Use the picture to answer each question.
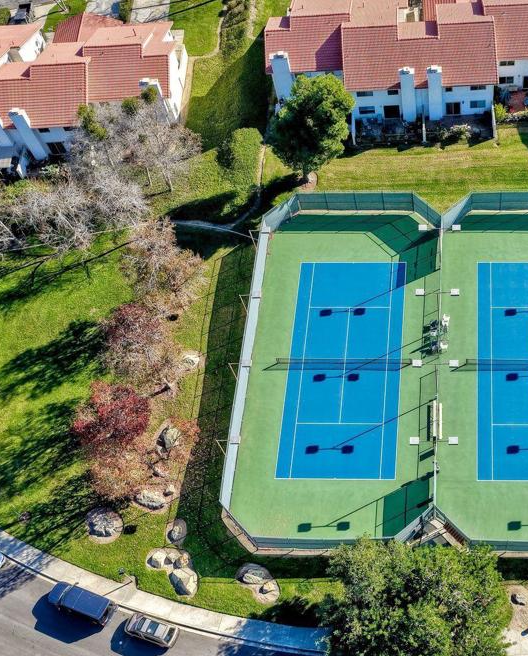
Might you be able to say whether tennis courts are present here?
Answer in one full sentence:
Yes, a tennis court appears in the view.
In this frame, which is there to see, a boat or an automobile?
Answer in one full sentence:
Of the two, only an automobile appears.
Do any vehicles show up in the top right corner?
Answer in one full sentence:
No, no vehicle is visible in the top right corner.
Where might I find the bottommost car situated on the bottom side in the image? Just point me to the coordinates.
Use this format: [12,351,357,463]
[122,613,182,649]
